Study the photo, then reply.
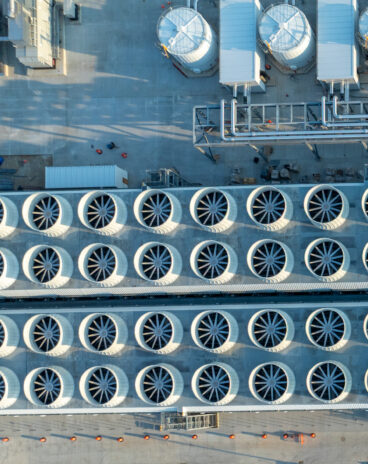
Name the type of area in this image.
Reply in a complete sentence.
This looks like an industrial area.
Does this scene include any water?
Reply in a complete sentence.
No, there is no water in the image.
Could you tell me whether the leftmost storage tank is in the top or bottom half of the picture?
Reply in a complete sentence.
Seen from above, the leftmost storage tank lies in the top half of the view.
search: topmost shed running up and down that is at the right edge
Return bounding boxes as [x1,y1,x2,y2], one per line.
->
[317,0,358,88]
